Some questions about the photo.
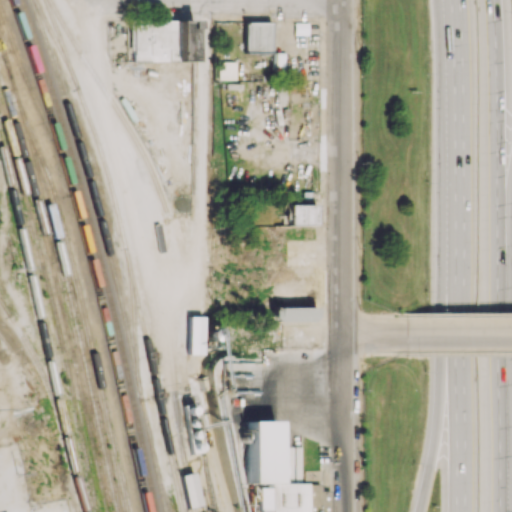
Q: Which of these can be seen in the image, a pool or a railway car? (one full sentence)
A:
Visible in the photo is a railway car.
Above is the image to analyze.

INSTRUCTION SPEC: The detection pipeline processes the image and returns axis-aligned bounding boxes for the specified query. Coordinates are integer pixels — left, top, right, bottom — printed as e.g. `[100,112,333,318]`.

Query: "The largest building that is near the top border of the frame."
[135,20,181,62]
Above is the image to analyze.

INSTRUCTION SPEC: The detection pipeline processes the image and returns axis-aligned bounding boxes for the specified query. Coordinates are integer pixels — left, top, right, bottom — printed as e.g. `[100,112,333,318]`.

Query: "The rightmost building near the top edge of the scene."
[244,22,276,54]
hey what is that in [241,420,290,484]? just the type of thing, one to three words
building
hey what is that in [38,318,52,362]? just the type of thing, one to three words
rail car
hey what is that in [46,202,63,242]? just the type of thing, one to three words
rail car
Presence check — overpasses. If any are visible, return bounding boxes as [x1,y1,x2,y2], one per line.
[402,314,512,352]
